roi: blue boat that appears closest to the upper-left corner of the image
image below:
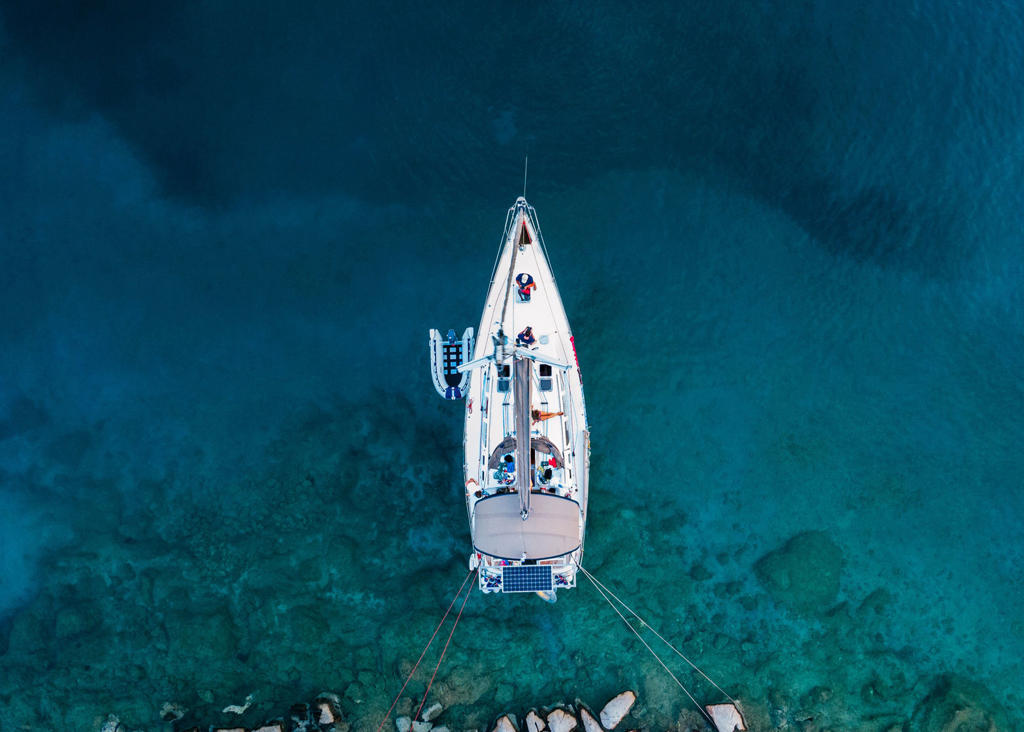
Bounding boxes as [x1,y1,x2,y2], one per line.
[429,328,475,399]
